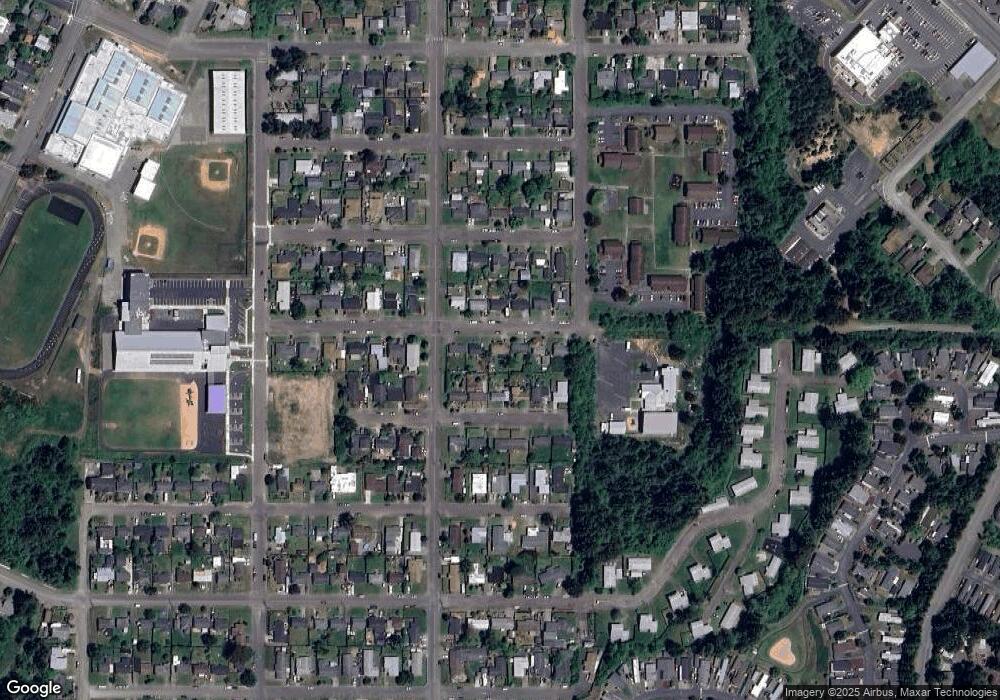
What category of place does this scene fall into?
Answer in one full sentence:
This image shows a residential area.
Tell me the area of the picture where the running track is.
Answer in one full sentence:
The running track sits in the left section of the image.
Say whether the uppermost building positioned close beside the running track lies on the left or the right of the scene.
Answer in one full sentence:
The uppermost building positioned close beside the running track appears in the left half of the scene.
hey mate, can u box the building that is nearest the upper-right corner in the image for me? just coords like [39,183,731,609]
[949,41,997,82]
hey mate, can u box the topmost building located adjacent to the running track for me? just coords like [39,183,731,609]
[44,39,186,179]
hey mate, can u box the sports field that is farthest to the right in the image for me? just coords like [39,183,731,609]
[97,373,198,455]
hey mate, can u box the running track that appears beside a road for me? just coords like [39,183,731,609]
[0,182,104,379]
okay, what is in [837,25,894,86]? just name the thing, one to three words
building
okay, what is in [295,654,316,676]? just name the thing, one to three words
house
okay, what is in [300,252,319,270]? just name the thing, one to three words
house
